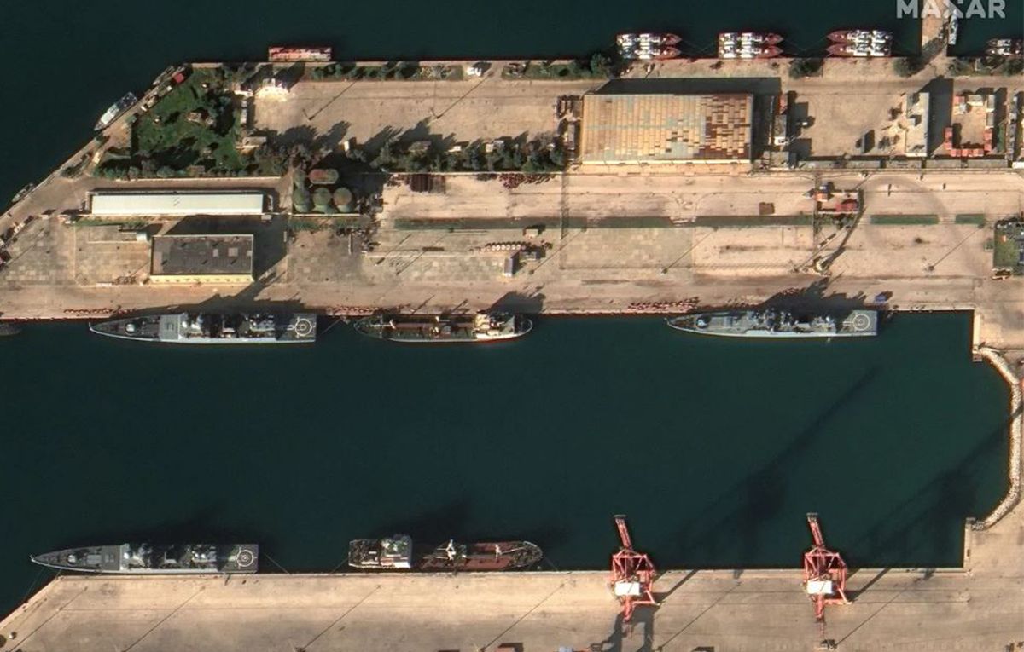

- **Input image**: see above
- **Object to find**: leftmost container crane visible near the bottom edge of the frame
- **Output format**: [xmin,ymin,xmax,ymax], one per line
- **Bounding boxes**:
[611,517,663,631]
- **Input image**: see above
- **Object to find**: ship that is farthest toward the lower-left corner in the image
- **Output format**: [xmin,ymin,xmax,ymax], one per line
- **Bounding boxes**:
[30,545,259,575]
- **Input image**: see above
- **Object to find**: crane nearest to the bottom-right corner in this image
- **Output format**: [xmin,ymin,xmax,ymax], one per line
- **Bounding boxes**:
[804,515,855,630]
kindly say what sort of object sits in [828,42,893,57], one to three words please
boat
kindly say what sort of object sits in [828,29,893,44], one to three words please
boat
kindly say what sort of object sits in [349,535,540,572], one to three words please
ship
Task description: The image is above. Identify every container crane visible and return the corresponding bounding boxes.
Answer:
[611,517,663,631]
[804,515,855,630]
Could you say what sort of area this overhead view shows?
port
